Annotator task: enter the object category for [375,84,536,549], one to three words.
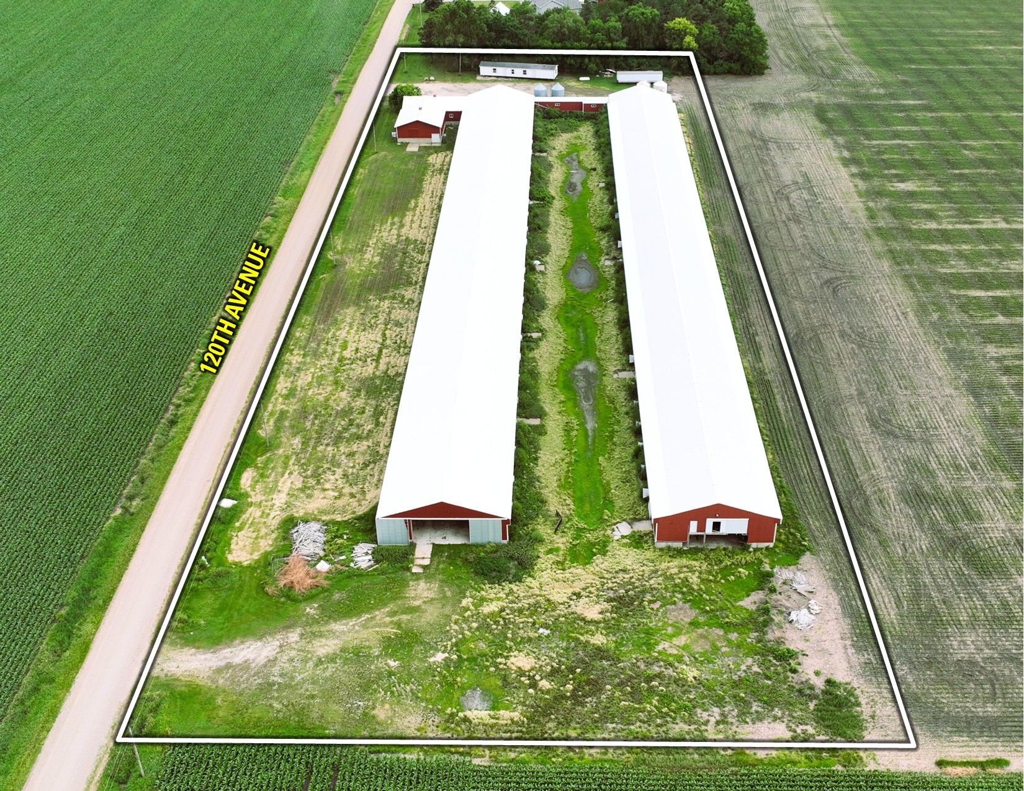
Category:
barn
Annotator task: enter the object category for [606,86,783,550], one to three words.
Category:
barn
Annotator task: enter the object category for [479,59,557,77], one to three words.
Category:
house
